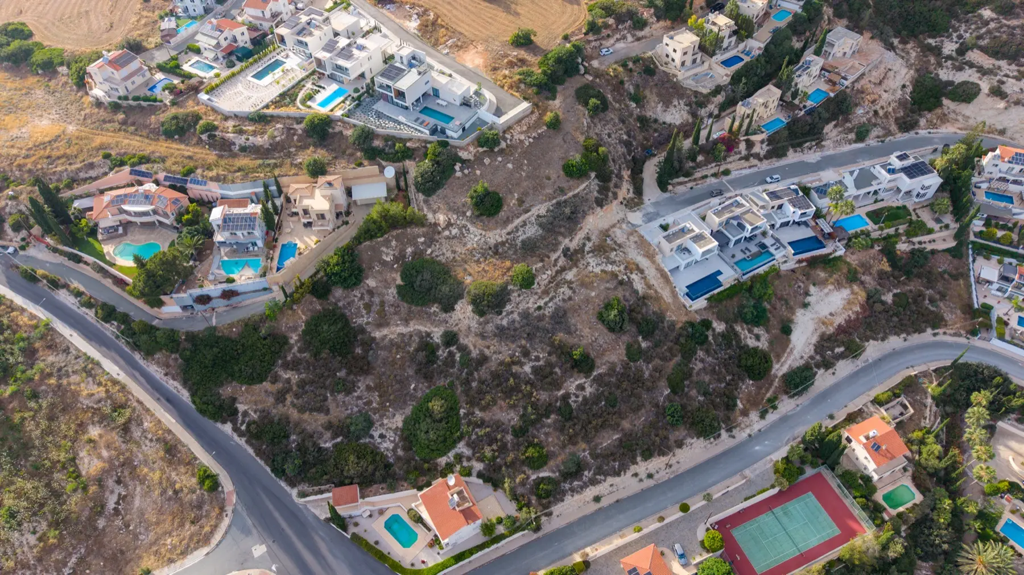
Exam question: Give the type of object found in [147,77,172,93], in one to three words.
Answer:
swimming pool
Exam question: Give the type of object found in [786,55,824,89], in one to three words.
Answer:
house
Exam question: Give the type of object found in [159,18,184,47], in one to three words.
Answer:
shed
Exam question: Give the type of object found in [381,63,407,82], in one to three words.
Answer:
solar array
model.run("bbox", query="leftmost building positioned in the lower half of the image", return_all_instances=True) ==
[332,484,362,512]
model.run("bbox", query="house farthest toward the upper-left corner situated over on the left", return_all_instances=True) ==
[85,46,154,95]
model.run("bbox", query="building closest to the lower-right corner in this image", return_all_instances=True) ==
[845,413,911,480]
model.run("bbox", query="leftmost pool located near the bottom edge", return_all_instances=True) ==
[383,513,419,550]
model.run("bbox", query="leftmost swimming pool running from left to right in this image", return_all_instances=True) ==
[110,240,165,263]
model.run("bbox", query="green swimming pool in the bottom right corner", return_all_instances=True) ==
[882,483,917,511]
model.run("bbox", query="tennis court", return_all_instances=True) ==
[731,492,841,574]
